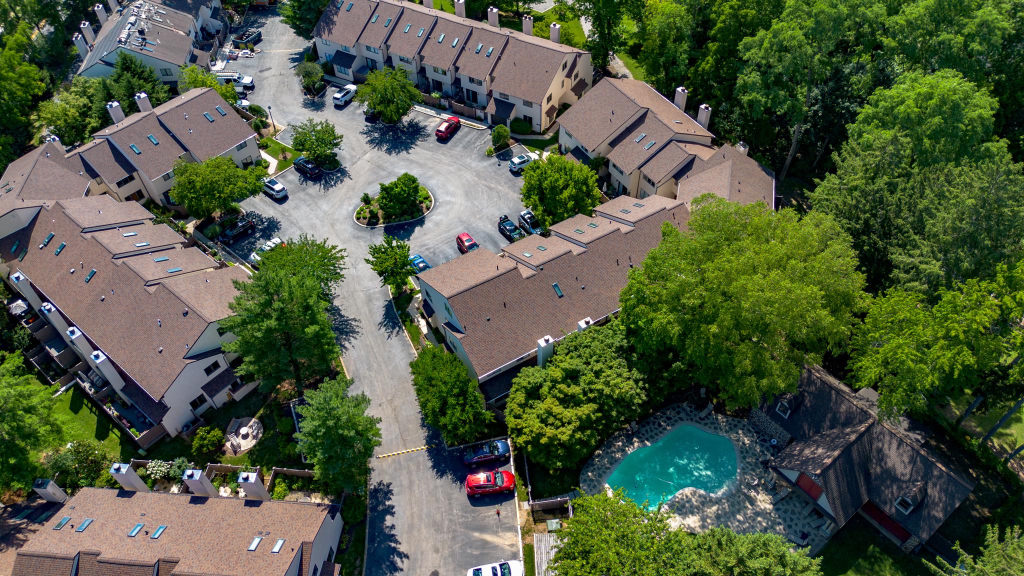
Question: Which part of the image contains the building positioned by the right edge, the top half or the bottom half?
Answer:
bottom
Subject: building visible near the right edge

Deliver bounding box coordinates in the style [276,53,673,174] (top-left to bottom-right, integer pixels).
[745,353,979,550]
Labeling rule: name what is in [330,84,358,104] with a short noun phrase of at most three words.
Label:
car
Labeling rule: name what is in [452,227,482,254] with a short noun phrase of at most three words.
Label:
car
